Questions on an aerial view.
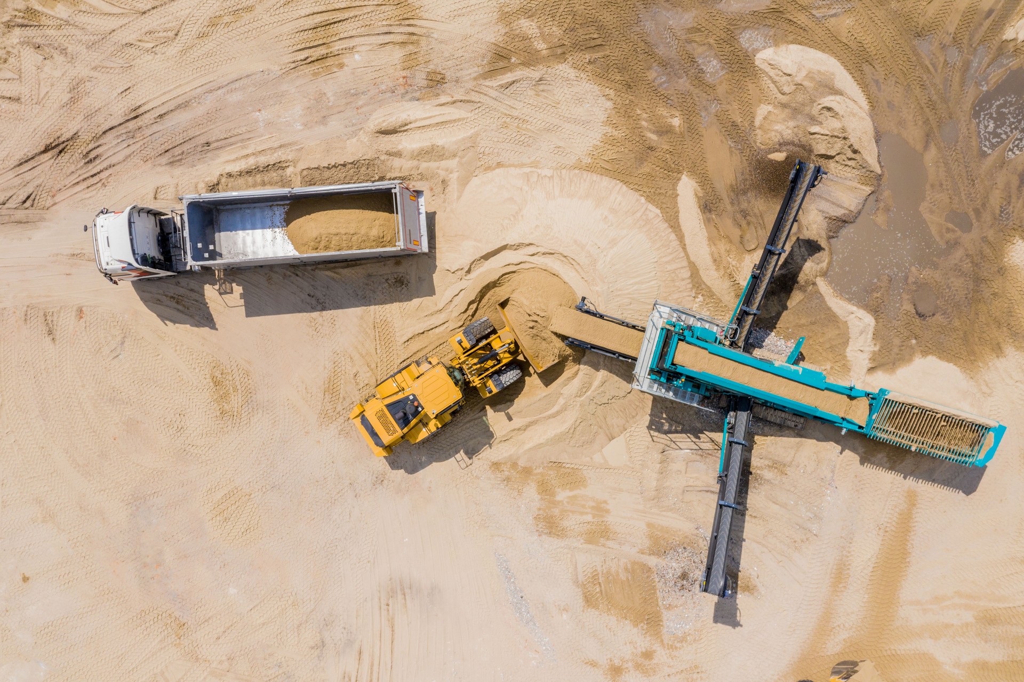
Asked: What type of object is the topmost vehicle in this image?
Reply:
truck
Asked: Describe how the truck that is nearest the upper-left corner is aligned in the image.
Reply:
from side to side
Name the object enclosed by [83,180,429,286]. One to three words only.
truck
